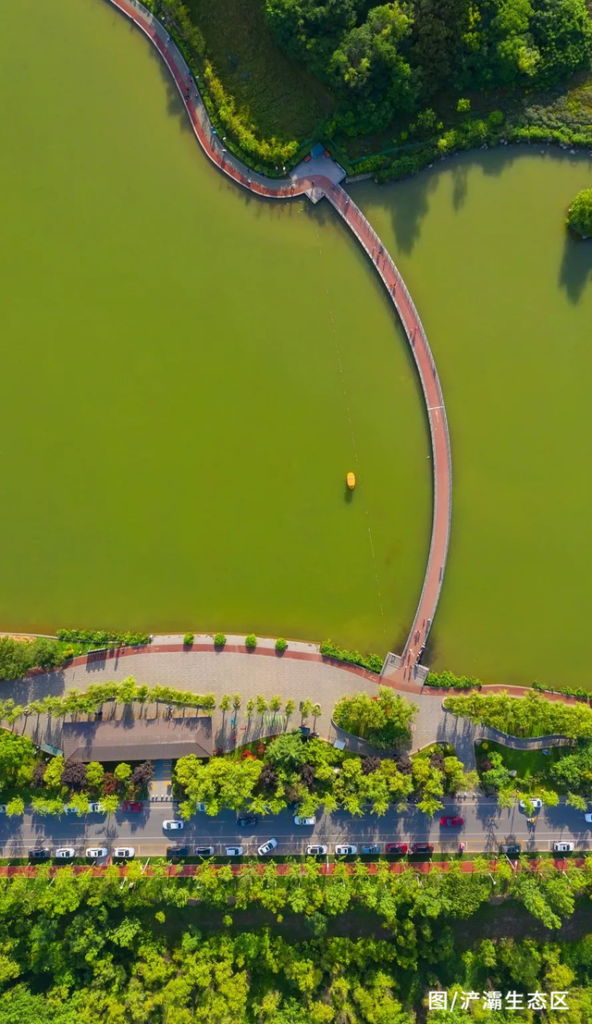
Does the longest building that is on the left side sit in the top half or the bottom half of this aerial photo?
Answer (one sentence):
The longest building that is on the left side sits in the bottom half of the picture.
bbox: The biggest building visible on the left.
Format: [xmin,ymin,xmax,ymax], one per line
[63,715,213,762]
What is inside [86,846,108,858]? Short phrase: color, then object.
white vehicle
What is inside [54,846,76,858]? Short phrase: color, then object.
white vehicle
